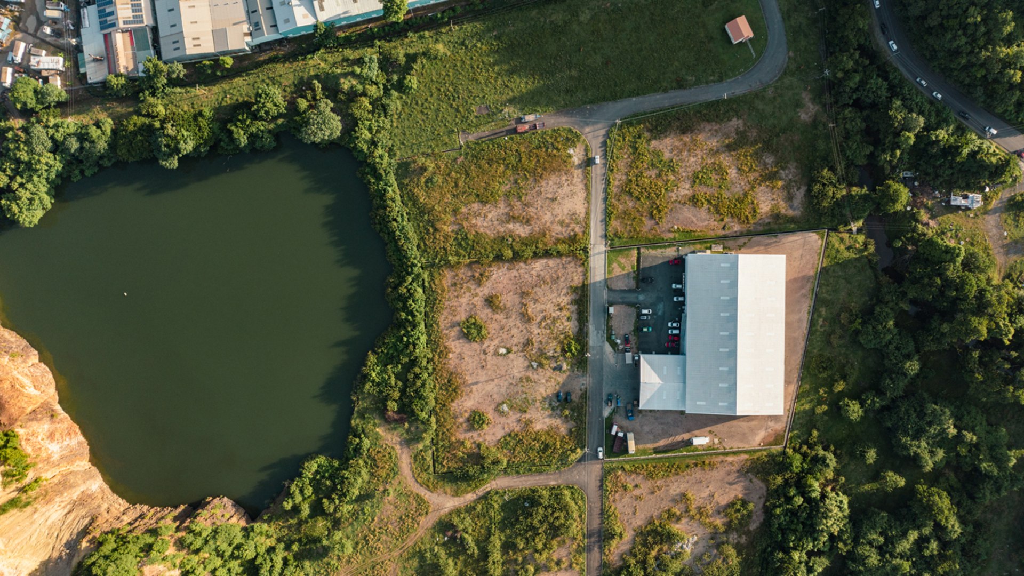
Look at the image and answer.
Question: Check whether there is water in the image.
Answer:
Yes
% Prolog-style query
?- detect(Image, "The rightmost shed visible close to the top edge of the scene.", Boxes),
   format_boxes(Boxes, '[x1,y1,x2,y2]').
[726,16,753,43]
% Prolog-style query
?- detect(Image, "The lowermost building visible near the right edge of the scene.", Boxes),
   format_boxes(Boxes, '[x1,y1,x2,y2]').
[951,191,985,209]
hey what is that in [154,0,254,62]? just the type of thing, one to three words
building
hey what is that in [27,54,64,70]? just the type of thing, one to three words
vehicle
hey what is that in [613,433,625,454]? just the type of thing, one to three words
vehicle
